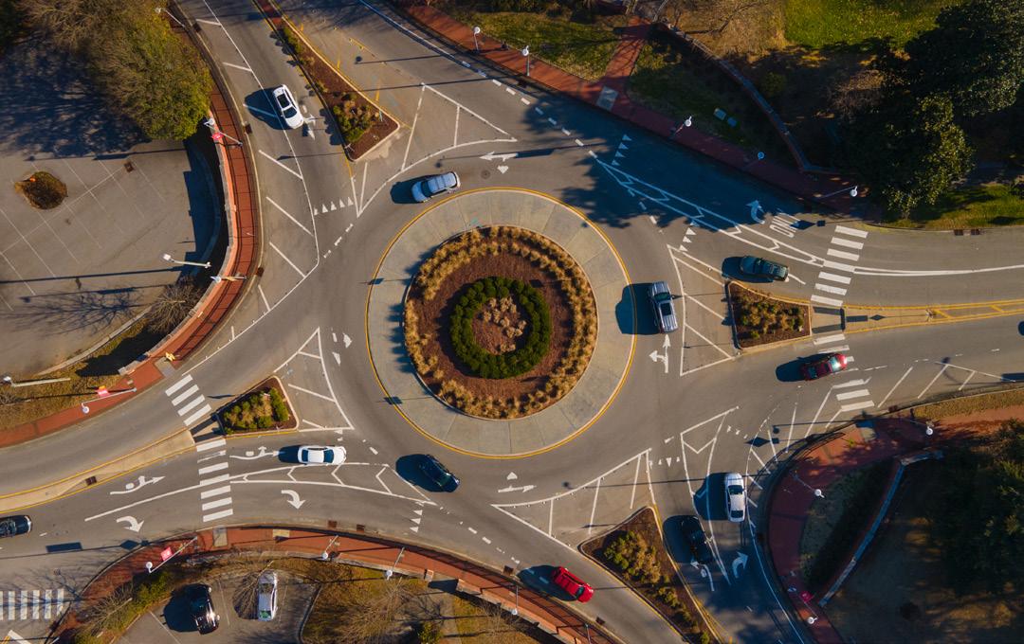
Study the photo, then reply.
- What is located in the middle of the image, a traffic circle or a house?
traffic circle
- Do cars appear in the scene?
Yes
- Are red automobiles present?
Yes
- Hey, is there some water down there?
No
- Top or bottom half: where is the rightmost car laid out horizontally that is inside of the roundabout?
top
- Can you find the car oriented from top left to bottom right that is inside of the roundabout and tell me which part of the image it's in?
bottom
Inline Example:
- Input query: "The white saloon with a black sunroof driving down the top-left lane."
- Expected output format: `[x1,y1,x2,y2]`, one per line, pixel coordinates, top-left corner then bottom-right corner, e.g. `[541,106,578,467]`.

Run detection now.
[271,83,306,130]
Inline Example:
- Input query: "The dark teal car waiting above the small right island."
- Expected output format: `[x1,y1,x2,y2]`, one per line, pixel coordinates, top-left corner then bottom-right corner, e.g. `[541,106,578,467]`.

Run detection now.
[738,256,789,283]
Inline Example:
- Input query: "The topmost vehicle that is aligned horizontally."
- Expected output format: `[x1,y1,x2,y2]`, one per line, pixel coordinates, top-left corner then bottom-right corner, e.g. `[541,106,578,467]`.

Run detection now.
[412,172,462,200]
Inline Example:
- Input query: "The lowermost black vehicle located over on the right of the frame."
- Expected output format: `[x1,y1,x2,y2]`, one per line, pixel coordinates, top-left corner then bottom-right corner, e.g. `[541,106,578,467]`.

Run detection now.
[682,515,713,566]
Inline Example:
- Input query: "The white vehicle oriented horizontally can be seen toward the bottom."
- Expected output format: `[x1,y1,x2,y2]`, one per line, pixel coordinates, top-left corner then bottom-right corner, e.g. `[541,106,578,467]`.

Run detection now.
[298,445,348,468]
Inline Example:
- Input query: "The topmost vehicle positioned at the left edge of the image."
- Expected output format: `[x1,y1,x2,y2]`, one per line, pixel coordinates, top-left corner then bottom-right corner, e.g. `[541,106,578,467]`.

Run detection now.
[0,516,34,540]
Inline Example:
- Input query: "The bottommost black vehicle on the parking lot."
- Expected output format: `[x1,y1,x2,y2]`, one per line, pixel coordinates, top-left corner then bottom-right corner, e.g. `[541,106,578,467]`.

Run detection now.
[189,584,217,634]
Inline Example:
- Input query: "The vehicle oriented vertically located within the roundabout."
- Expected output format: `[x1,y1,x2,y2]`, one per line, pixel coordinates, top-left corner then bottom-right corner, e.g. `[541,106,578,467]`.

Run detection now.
[651,281,679,333]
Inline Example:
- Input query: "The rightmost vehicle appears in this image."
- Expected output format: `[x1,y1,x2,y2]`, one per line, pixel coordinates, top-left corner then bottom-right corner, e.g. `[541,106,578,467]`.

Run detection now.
[799,354,847,381]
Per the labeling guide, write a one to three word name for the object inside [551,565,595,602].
car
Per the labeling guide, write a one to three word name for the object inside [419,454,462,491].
car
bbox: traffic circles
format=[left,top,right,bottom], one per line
[307,126,697,516]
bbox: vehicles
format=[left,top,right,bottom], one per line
[271,83,306,130]
[298,445,348,468]
[551,565,595,602]
[738,256,789,283]
[651,281,679,333]
[189,584,217,634]
[256,572,279,619]
[724,472,748,522]
[412,172,462,200]
[799,354,847,381]
[0,516,34,540]
[682,515,713,566]
[419,454,462,491]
